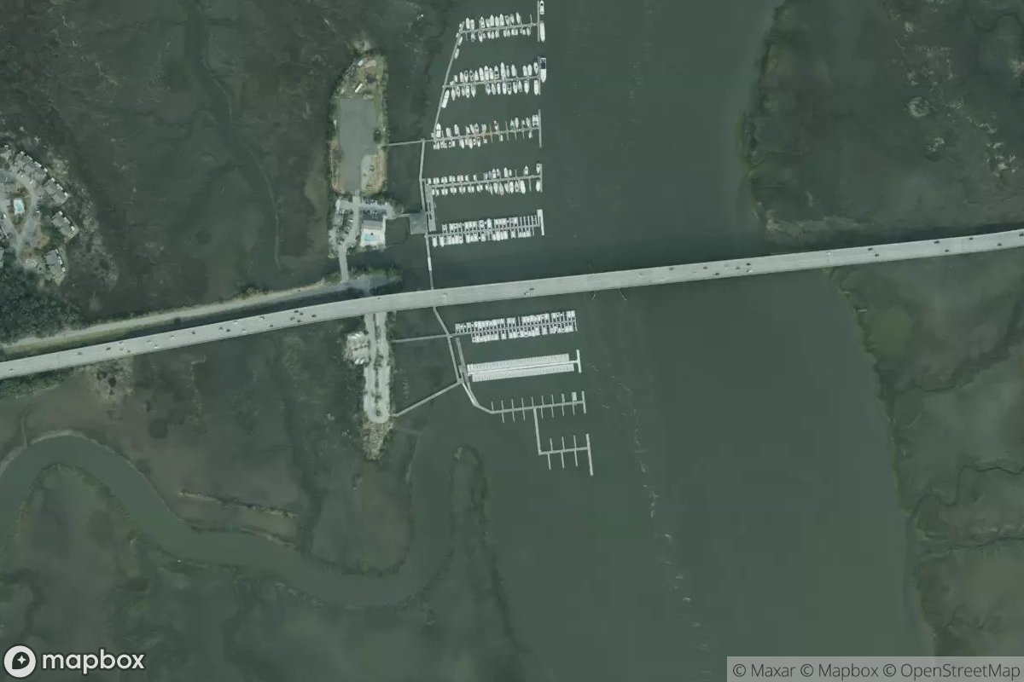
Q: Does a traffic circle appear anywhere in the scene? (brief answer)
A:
No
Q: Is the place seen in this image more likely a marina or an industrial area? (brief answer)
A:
marina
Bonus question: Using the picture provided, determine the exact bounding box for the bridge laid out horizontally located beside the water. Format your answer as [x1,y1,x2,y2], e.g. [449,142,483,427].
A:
[0,229,1024,379]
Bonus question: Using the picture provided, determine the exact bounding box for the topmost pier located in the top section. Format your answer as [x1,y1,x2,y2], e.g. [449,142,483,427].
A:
[461,0,540,41]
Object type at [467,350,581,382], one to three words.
pier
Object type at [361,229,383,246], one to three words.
swimming pool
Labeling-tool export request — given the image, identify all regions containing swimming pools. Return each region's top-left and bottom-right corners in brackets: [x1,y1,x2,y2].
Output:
[14,199,25,215]
[361,229,383,246]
